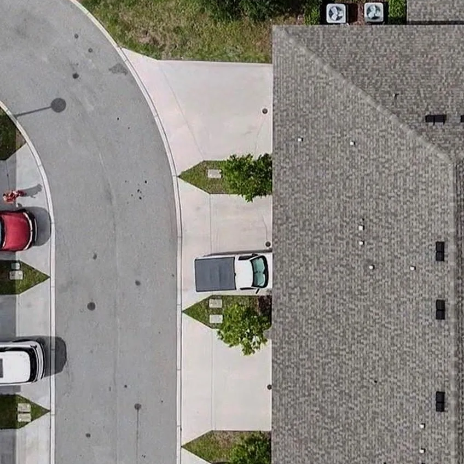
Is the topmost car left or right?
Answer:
left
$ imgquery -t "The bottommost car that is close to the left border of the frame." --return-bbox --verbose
[0,337,48,379]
